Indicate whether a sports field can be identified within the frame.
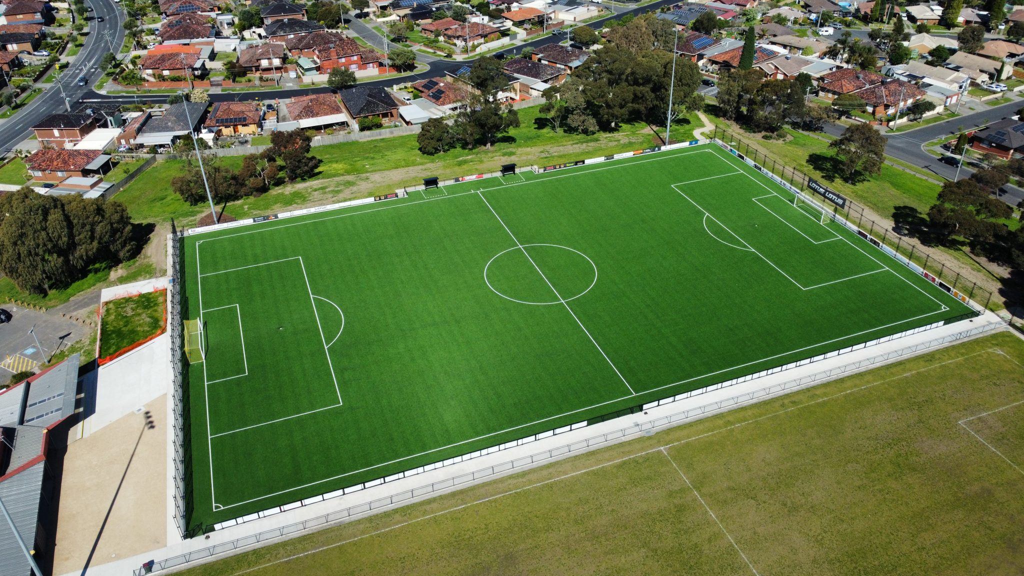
Yes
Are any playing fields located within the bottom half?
Yes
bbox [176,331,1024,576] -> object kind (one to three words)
sports field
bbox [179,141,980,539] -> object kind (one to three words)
sports field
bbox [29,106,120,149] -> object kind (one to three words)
house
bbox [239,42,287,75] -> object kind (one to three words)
house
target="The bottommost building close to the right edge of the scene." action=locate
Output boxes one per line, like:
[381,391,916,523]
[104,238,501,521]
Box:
[970,116,1024,159]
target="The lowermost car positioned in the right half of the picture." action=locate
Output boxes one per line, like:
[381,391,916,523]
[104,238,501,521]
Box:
[939,155,966,167]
